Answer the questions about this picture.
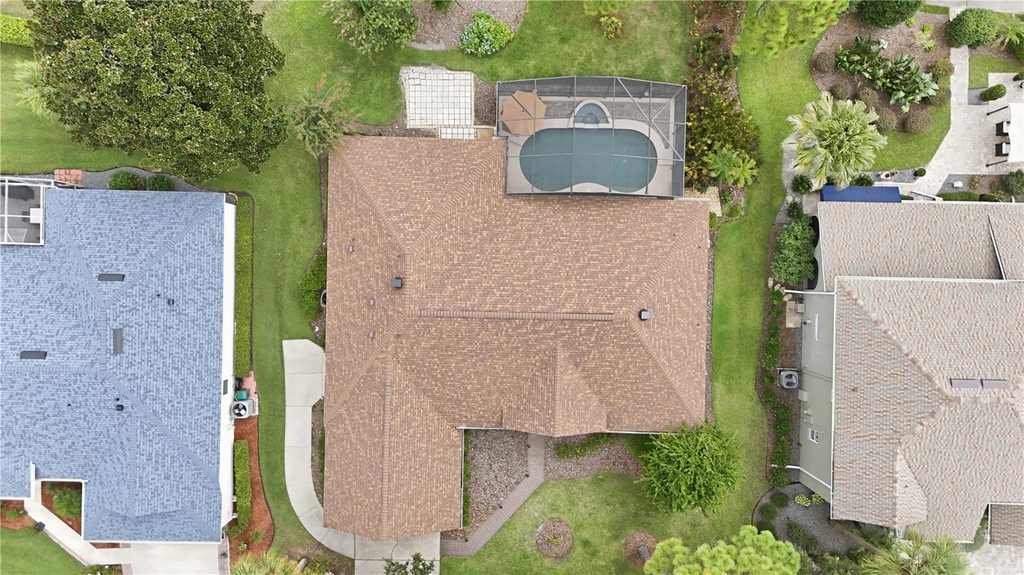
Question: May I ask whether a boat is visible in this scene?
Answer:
No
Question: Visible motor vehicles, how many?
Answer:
0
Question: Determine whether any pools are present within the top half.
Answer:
Yes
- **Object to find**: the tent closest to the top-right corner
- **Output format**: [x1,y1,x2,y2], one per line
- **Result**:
[973,102,1024,169]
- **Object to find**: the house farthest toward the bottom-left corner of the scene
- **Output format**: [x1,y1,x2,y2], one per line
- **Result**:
[0,186,238,545]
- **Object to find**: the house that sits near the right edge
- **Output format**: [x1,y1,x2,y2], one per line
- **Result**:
[772,201,1024,546]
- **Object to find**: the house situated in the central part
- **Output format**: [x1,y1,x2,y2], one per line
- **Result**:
[322,135,712,543]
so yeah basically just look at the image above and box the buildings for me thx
[772,201,1024,546]
[322,135,712,543]
[0,186,238,545]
